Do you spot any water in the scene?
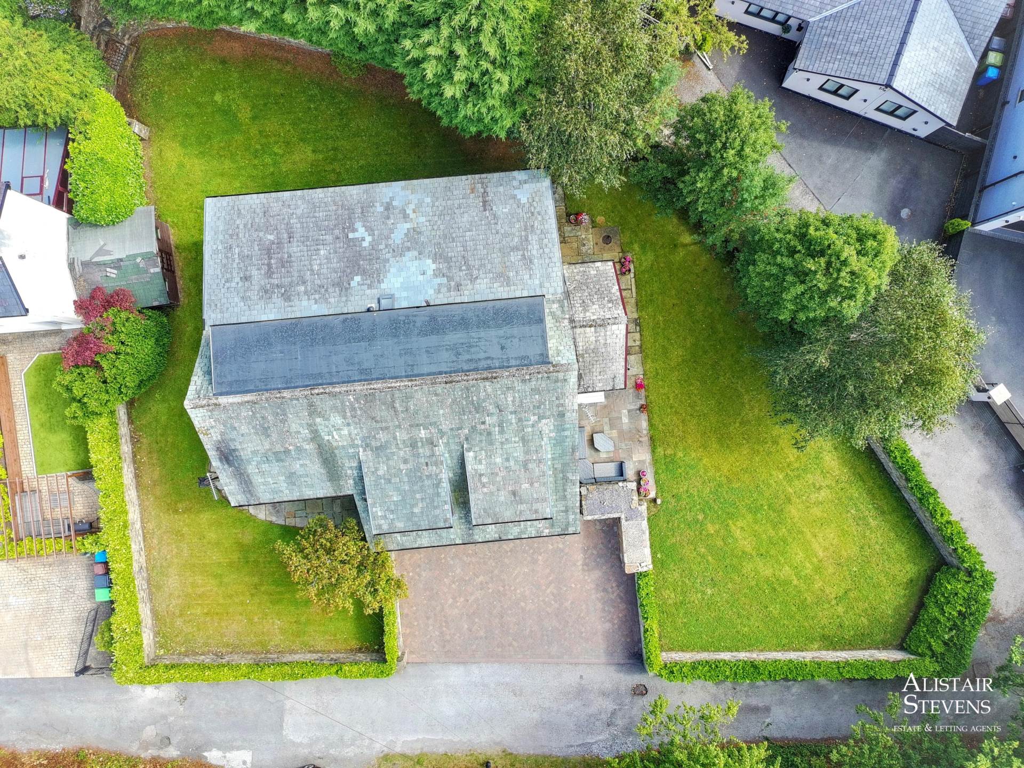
No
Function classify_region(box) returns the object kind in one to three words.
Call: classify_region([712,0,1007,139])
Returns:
house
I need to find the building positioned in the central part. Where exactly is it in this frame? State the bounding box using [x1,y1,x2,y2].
[181,168,629,550]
